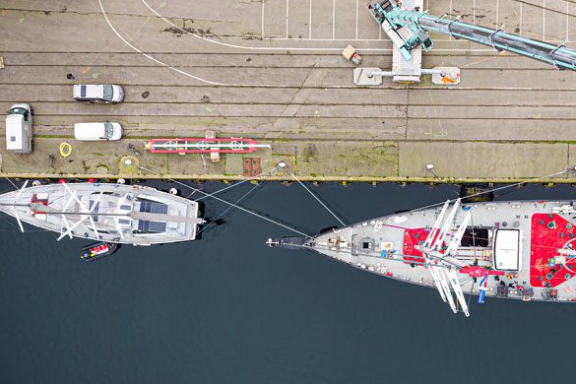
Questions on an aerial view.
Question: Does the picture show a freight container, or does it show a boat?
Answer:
boat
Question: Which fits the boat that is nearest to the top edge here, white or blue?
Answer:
white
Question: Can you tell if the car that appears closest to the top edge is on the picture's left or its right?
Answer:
left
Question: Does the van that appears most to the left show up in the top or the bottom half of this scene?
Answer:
top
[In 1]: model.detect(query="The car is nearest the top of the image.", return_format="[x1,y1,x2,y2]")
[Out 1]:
[73,81,124,104]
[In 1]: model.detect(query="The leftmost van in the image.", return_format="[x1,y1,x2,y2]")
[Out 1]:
[0,104,35,154]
